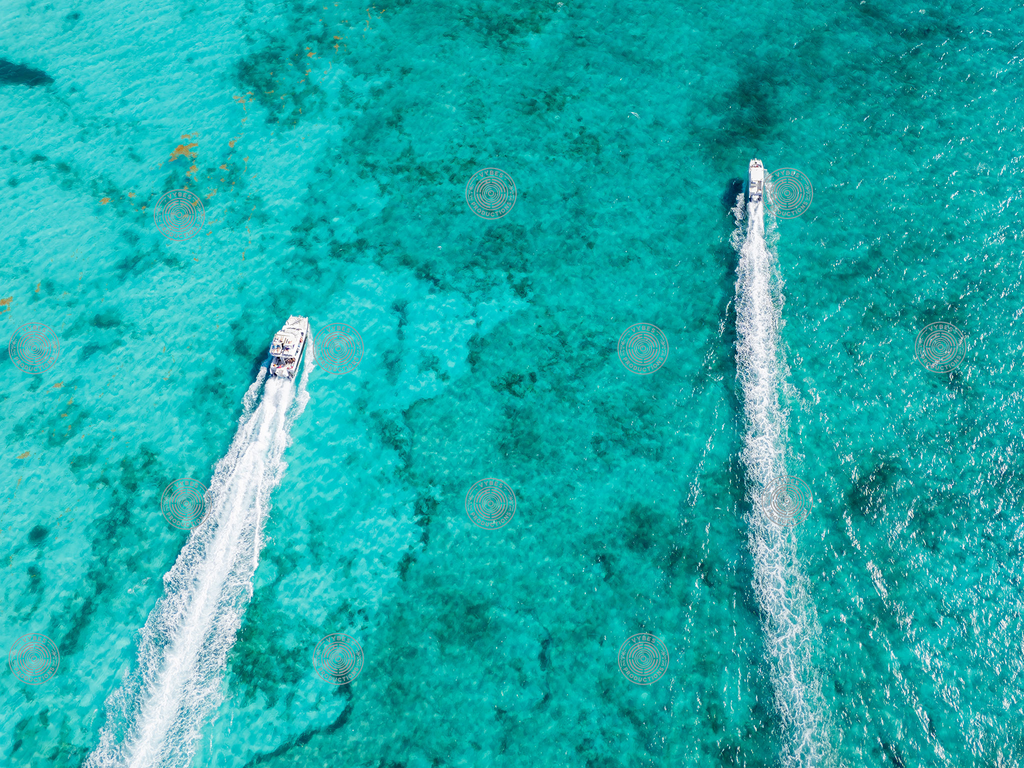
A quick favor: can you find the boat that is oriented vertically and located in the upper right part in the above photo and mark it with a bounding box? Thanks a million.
[748,157,765,204]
